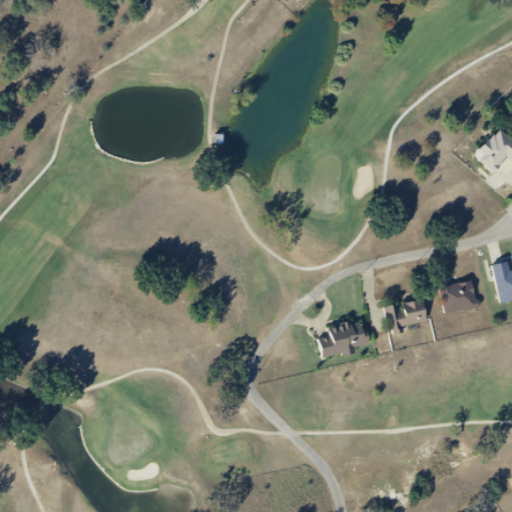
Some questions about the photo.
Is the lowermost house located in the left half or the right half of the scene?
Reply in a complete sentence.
The lowermost house appears in the right half of the scene.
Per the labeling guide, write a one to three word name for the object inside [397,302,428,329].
house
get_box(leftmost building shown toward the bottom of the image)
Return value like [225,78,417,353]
[316,321,370,360]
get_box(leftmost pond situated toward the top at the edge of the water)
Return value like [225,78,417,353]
[93,86,204,162]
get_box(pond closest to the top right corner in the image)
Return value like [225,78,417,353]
[226,0,338,186]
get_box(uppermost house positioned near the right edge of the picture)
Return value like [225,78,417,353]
[472,128,512,176]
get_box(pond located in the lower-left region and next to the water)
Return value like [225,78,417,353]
[0,379,195,512]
